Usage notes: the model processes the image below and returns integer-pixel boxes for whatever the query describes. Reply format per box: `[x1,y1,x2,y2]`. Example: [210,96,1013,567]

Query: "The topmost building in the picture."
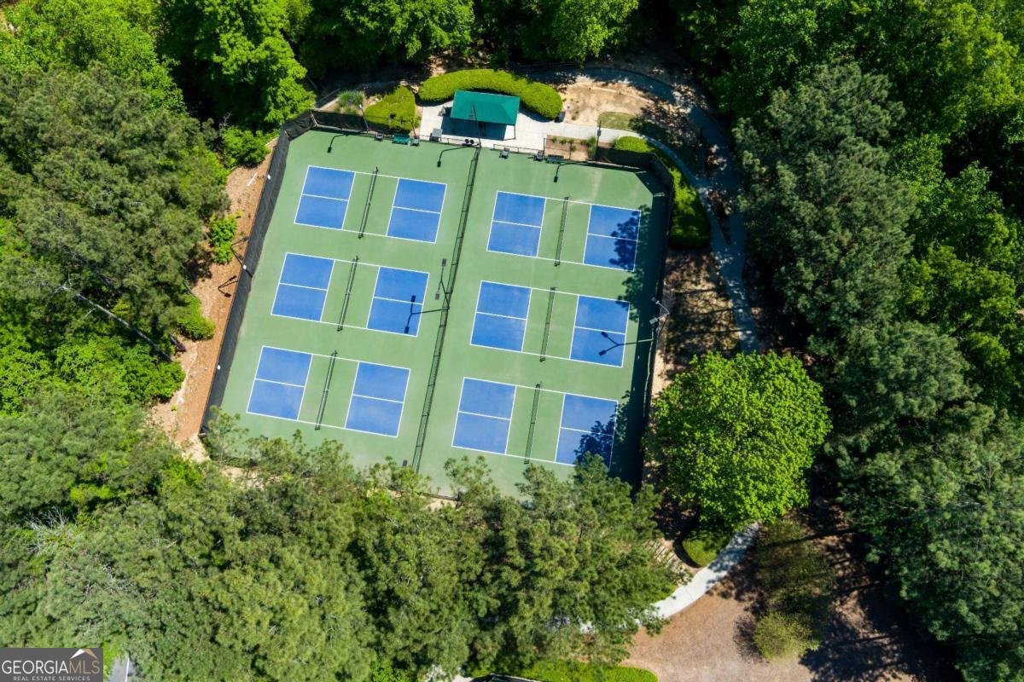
[449,89,520,141]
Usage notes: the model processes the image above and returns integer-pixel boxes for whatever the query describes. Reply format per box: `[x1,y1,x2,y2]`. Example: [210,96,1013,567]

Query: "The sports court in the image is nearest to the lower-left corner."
[245,346,411,437]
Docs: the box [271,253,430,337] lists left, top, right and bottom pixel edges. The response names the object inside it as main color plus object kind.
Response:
blue sports court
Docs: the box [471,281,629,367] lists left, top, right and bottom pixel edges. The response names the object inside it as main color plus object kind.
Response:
blue sports court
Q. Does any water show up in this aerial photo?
No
